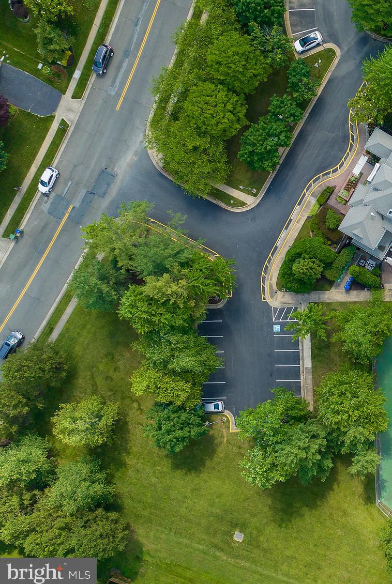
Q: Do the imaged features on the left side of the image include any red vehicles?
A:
No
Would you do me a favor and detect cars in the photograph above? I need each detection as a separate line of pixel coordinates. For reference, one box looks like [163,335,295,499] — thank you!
[0,332,24,360]
[39,166,59,193]
[91,44,114,75]
[198,400,225,412]
[295,31,324,53]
